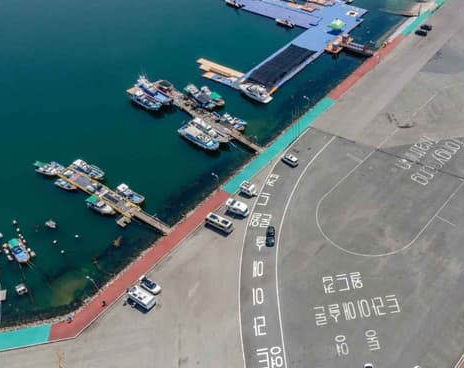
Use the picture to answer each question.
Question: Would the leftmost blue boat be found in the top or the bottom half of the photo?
bottom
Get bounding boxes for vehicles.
[415,29,428,37]
[140,278,163,296]
[203,211,238,235]
[420,23,433,32]
[224,197,254,221]
[239,180,257,198]
[265,227,275,247]
[129,286,158,311]
[280,152,301,168]
[365,362,375,368]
